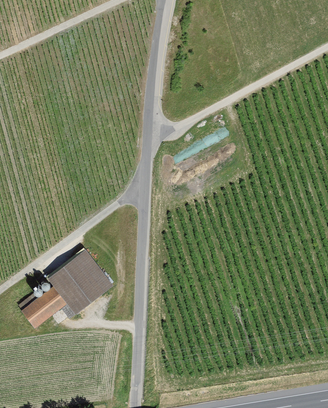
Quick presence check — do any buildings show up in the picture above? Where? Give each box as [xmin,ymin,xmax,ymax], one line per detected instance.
[48,248,112,314]
[22,286,66,328]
